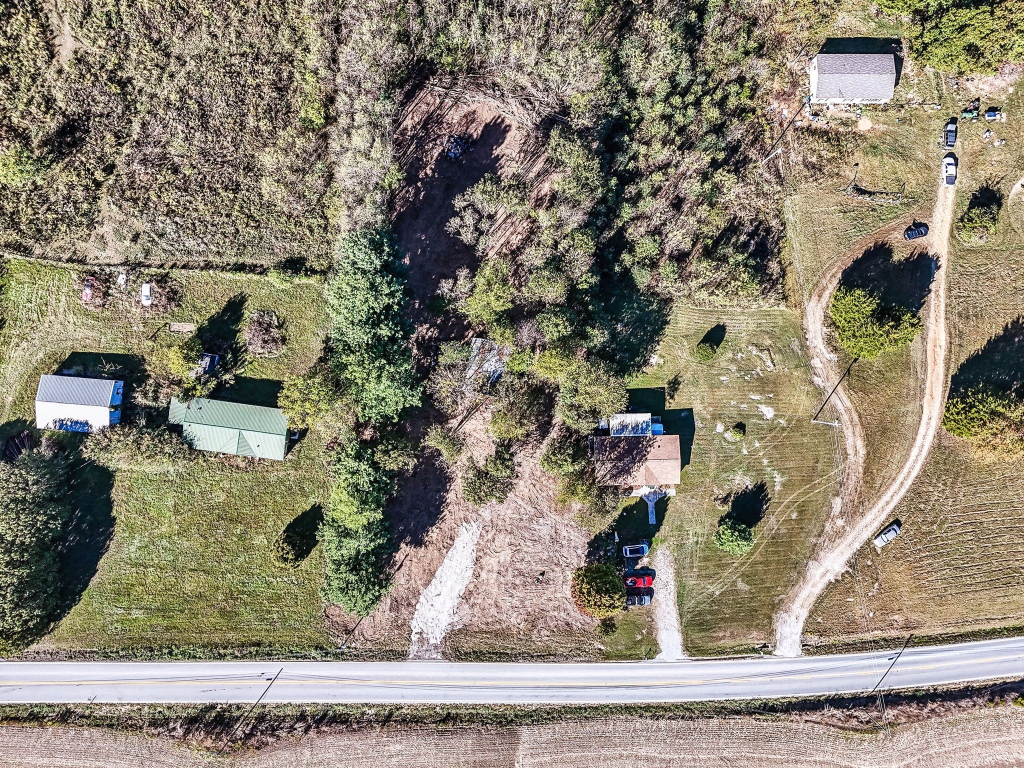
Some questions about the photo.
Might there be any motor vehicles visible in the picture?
Yes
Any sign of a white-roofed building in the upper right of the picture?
Yes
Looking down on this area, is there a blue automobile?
Yes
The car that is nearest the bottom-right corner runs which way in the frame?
on a diagonal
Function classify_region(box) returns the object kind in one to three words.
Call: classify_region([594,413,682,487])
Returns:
house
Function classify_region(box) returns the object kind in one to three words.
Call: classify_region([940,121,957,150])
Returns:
car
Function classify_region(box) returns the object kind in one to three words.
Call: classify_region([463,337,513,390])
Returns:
shed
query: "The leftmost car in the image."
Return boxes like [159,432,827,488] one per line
[81,276,95,301]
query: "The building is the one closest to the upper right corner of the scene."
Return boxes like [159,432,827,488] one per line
[809,54,899,112]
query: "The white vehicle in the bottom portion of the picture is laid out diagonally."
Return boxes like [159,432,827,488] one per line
[872,521,900,547]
